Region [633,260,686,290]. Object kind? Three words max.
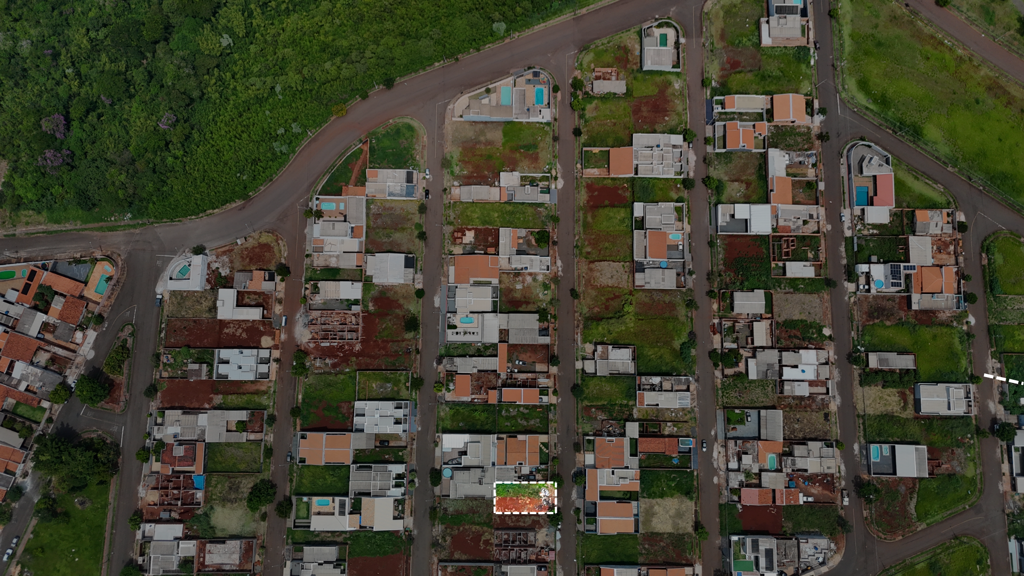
house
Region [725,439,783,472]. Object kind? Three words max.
house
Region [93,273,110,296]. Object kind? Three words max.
swimming pool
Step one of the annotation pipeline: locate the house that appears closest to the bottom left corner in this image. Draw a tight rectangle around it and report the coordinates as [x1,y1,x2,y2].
[0,428,34,502]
